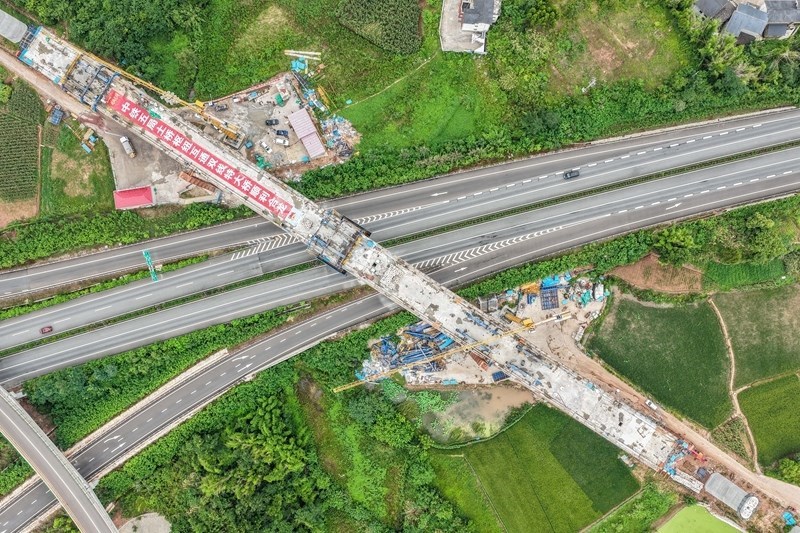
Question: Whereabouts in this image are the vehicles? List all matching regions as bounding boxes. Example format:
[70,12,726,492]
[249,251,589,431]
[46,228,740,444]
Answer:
[264,118,279,126]
[116,133,134,159]
[273,138,288,145]
[38,327,52,334]
[564,169,580,178]
[213,103,227,111]
[645,399,660,411]
[275,129,289,135]
[259,140,272,153]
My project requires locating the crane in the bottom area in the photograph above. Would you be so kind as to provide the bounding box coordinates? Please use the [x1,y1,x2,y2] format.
[333,303,576,393]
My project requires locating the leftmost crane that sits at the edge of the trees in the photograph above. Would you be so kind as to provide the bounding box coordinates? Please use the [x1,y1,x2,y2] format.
[82,49,247,148]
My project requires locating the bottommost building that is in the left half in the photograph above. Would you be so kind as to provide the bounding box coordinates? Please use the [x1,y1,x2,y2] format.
[114,186,157,209]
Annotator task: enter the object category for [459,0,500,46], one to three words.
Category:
house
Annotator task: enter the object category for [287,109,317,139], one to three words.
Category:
shed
